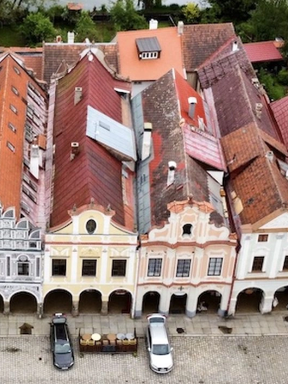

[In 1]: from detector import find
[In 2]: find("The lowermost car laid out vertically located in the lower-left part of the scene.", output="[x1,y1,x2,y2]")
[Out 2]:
[50,315,78,370]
